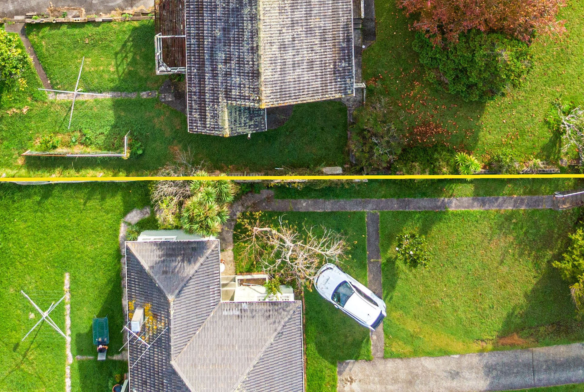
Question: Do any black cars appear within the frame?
No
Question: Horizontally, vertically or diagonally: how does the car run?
diagonally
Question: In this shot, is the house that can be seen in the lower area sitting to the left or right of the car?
on the left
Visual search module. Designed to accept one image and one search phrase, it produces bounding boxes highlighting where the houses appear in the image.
[124,232,305,392]
[185,0,355,137]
